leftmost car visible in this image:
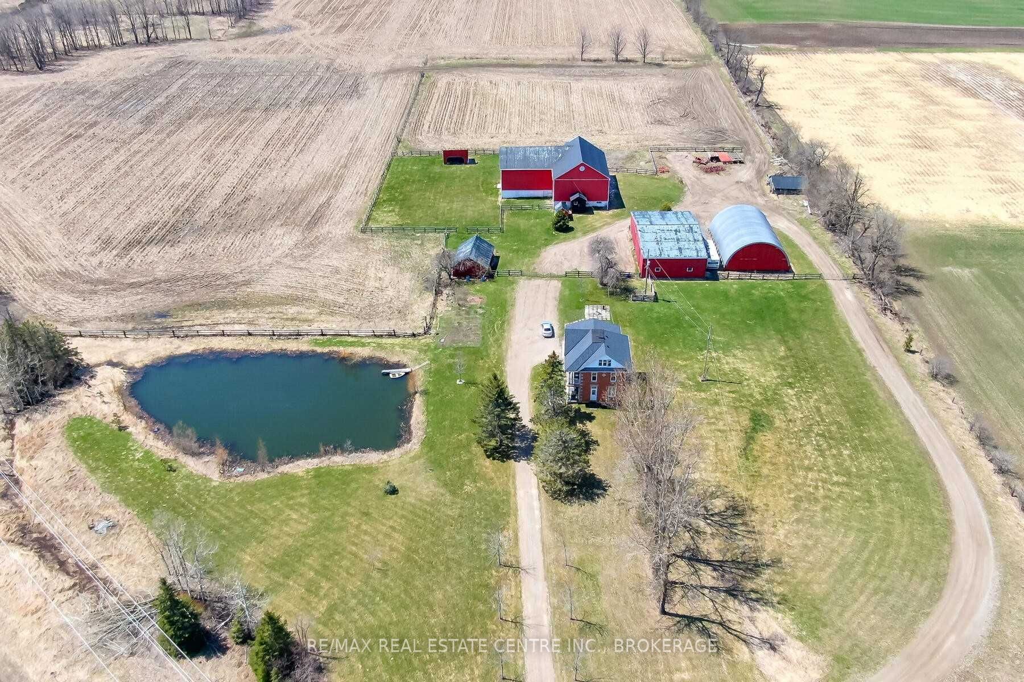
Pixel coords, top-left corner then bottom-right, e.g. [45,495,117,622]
[542,322,554,336]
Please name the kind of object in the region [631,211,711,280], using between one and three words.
shed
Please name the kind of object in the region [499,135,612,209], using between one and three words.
barn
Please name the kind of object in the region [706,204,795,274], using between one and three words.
shed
